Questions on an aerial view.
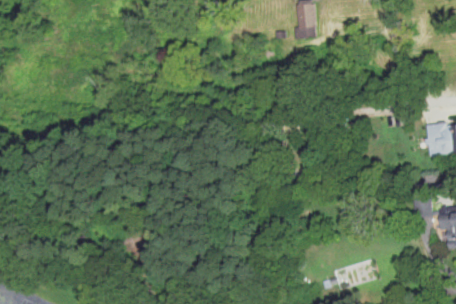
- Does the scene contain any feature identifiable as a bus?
No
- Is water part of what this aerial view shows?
No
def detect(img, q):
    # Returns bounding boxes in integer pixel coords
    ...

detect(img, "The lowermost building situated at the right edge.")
[439,206,456,248]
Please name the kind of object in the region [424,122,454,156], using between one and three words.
house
